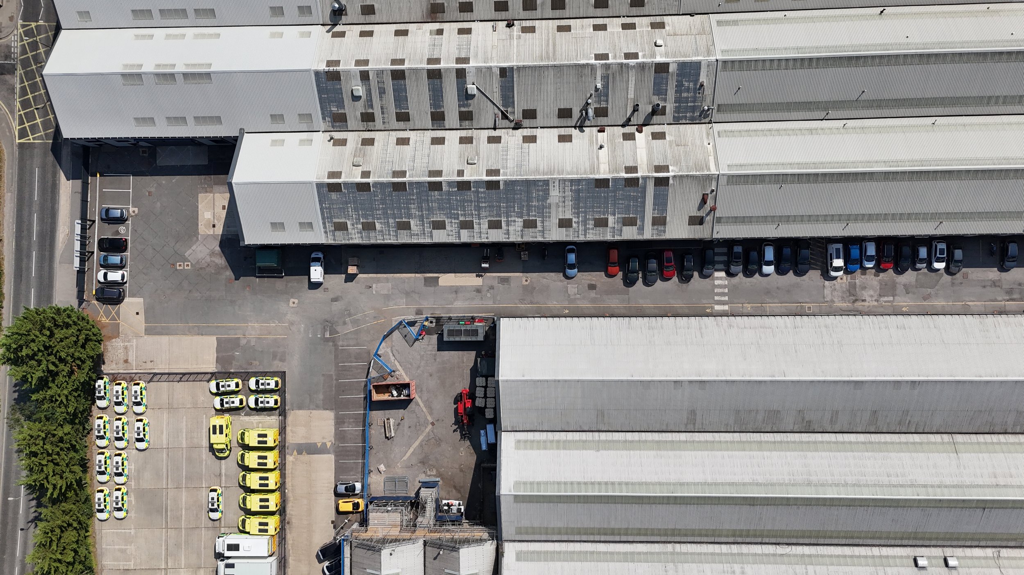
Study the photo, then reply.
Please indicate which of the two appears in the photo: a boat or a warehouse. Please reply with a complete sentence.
This aerial view contains a warehouse.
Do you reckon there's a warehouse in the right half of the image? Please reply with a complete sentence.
Yes, I can see a warehouse in the right half of the image.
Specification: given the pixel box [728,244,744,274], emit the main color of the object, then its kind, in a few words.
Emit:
black car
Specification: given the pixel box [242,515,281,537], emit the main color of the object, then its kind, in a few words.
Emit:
yellow vehicle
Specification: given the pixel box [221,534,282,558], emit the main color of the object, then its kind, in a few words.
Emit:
white truck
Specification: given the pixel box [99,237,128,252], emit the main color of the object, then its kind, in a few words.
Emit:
black car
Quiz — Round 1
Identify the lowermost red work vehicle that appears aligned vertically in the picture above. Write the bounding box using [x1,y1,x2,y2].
[455,390,475,440]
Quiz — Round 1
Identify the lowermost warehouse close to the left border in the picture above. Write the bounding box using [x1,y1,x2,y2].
[42,22,323,145]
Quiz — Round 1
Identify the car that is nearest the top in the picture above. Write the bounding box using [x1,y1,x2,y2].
[101,207,128,221]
